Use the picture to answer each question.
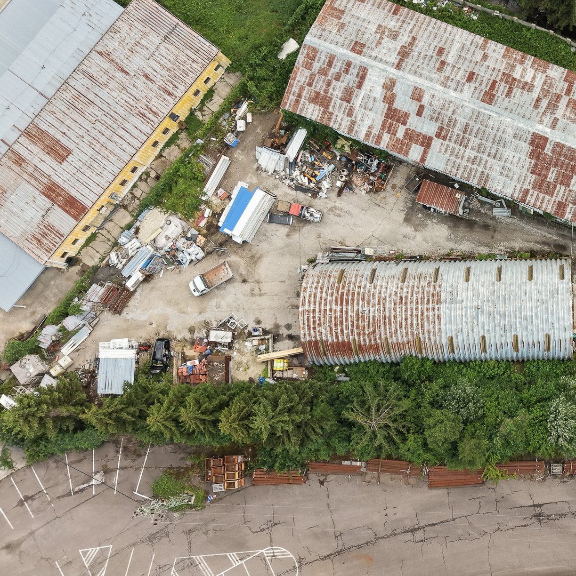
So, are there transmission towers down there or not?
Yes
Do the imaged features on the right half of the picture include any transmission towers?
No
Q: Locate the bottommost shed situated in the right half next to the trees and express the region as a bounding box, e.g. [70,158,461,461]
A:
[300,259,573,362]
